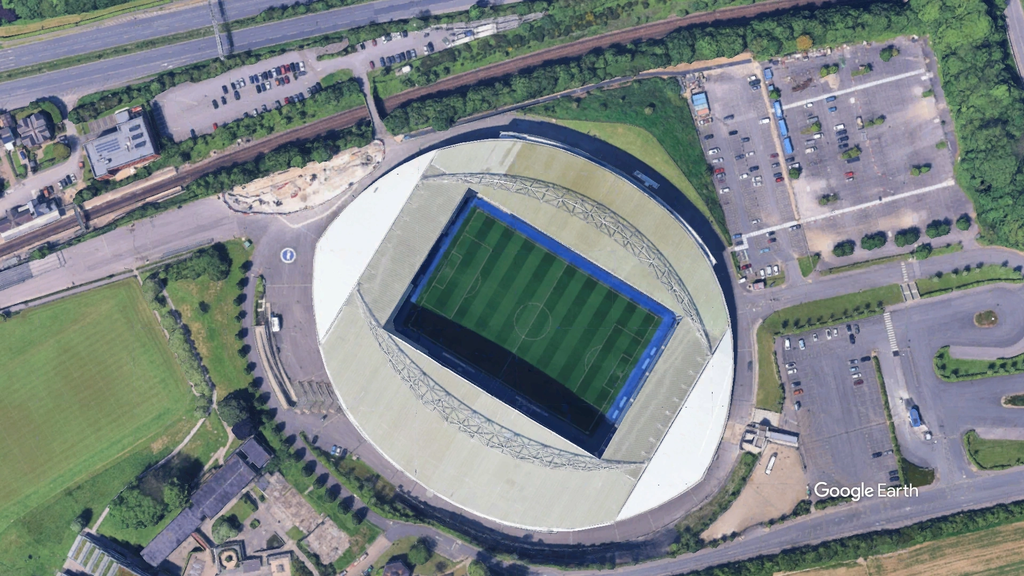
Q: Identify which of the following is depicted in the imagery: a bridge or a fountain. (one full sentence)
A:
Of the two, only a bridge appears.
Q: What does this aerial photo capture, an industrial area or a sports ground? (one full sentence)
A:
The picture captures a sports ground.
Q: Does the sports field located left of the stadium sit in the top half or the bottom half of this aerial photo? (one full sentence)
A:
The sports field located left of the stadium sits in the bottom half of the picture.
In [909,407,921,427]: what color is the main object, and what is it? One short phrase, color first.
blue vehicle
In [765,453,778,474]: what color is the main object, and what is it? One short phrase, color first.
white vehicle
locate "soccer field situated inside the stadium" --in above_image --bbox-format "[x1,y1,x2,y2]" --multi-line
[400,203,666,440]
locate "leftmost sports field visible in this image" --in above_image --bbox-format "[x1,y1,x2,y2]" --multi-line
[0,278,194,517]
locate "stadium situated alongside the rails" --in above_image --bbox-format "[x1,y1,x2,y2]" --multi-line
[312,132,735,533]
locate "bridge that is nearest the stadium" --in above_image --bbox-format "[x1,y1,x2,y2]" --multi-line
[357,84,389,141]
